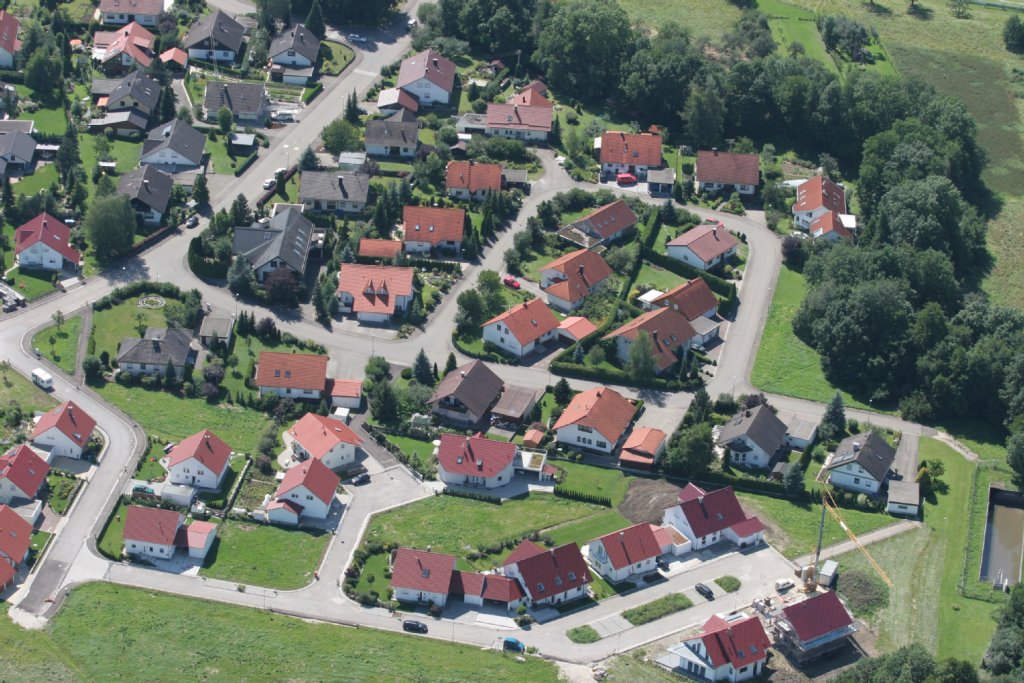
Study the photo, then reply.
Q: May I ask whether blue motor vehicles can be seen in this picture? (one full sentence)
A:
Yes, a blue motor vehicle is visible in the scene.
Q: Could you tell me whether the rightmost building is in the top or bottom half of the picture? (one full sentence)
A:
The rightmost building sits in the bottom half of the picture.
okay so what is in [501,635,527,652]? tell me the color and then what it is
blue vehicle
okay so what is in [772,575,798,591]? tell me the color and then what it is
white vehicle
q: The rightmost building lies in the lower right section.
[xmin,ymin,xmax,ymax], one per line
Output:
[888,481,920,516]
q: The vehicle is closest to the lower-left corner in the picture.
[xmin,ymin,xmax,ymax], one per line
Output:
[130,482,157,496]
